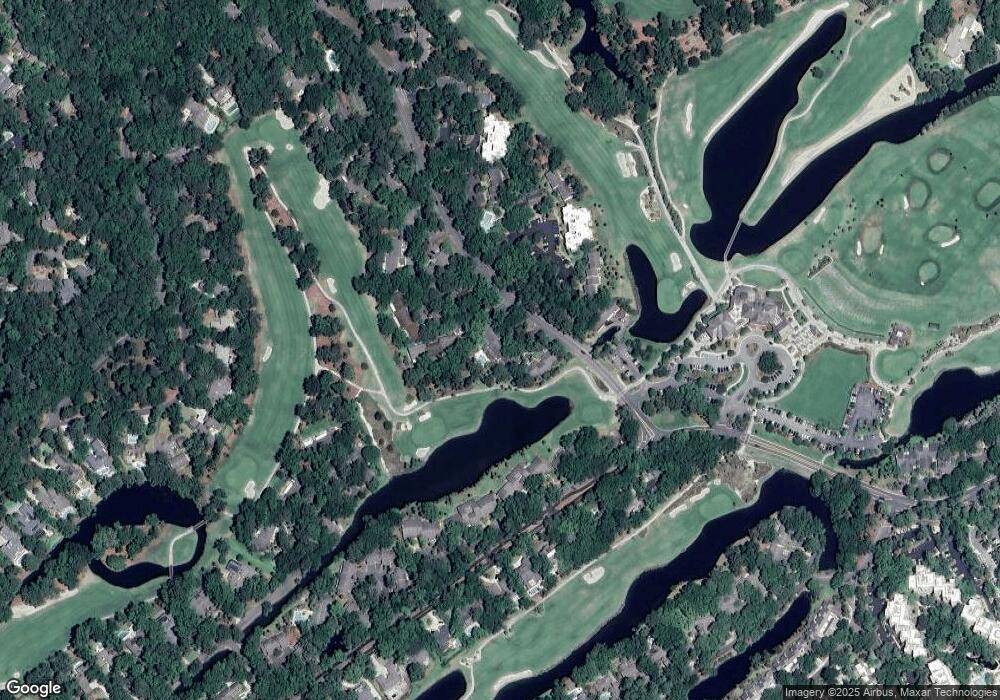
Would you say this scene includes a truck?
No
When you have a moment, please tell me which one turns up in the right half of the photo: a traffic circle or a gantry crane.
traffic circle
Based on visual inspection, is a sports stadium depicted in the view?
No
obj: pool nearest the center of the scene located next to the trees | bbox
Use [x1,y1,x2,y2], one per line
[475,349,491,366]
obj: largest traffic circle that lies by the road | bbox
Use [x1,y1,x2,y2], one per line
[741,340,797,392]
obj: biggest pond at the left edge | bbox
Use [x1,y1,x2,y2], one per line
[20,482,206,589]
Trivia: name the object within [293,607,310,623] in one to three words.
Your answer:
swimming pool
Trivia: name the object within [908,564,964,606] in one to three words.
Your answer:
building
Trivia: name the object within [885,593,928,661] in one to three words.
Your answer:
building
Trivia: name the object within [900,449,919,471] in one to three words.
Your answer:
house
